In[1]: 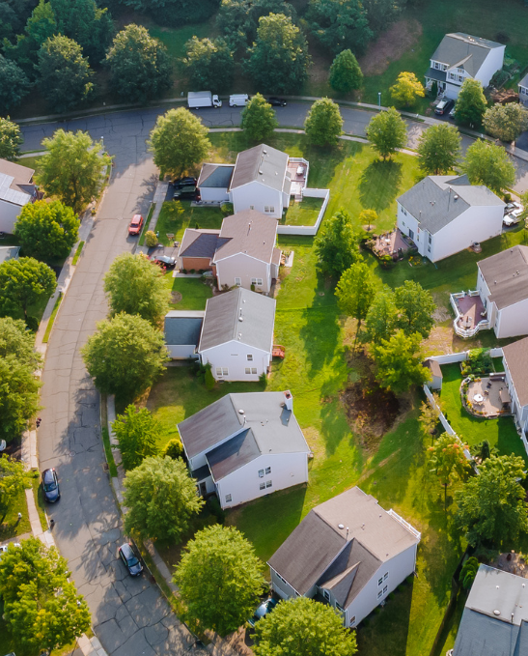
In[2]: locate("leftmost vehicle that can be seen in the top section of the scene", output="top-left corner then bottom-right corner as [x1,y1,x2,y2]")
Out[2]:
[126,211,143,233]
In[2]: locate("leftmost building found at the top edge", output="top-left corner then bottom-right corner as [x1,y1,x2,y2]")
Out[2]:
[423,23,504,93]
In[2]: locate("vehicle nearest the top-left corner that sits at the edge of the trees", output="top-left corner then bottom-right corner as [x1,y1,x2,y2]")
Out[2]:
[182,88,219,109]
